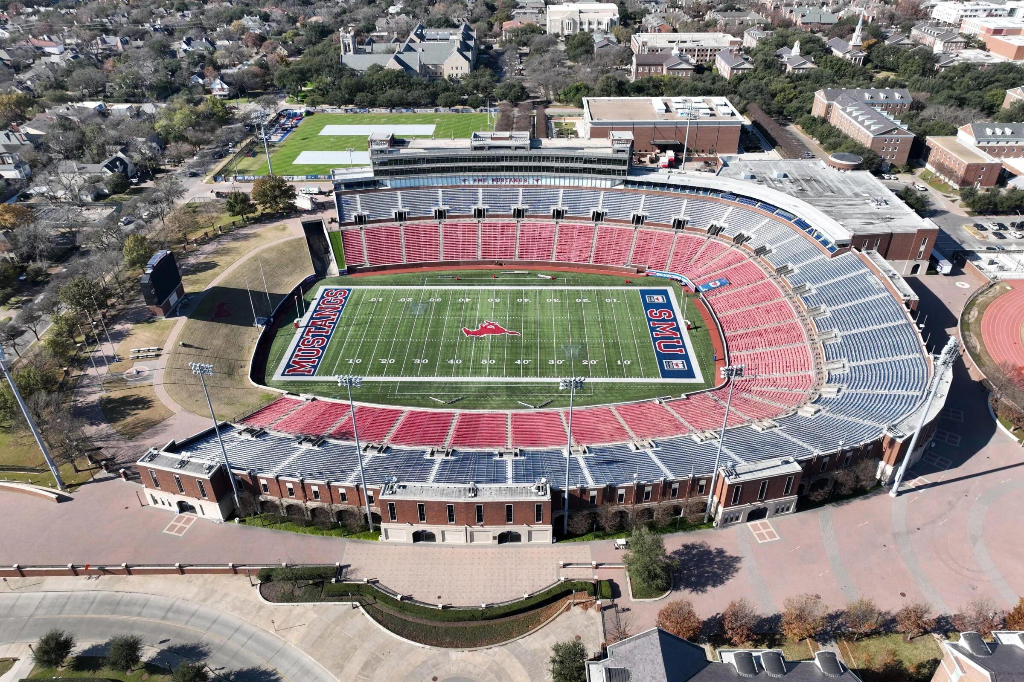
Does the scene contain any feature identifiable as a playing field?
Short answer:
Yes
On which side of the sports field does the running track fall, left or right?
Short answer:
on its right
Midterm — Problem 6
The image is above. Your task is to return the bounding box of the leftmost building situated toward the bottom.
[136,447,233,521]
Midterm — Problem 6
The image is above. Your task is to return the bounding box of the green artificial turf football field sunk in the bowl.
[264,270,717,419]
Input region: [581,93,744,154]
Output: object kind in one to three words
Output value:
building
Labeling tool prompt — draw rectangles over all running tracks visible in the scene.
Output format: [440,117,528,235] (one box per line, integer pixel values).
[981,278,1024,388]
